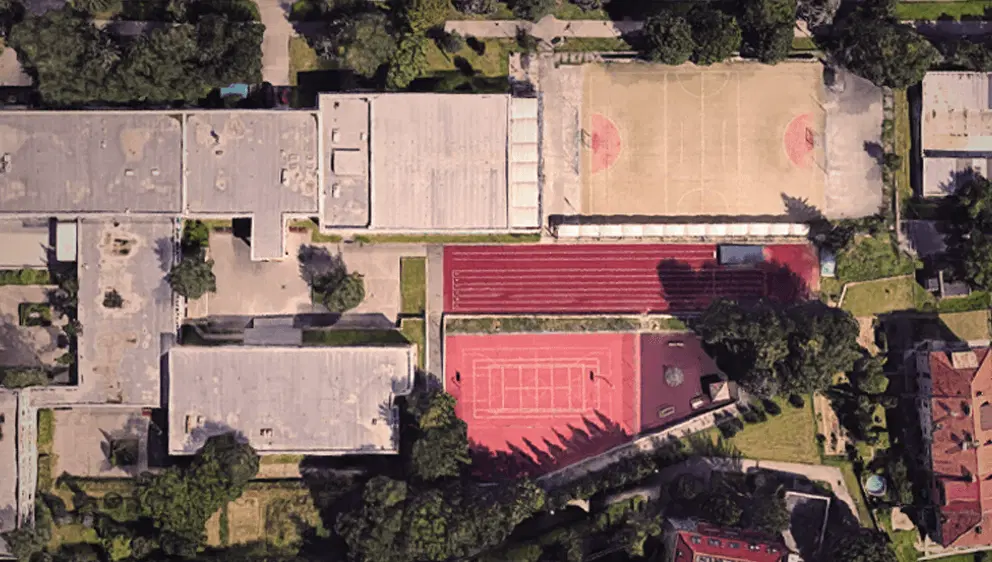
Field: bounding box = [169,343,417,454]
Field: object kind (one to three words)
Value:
building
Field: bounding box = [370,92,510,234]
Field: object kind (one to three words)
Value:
building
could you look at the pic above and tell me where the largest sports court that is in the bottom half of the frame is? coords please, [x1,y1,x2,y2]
[446,333,637,484]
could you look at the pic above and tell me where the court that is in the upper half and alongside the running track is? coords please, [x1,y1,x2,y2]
[581,61,826,218]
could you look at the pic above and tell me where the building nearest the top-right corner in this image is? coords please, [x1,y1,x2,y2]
[914,71,992,153]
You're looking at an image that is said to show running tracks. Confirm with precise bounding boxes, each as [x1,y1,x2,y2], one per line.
[444,245,820,311]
